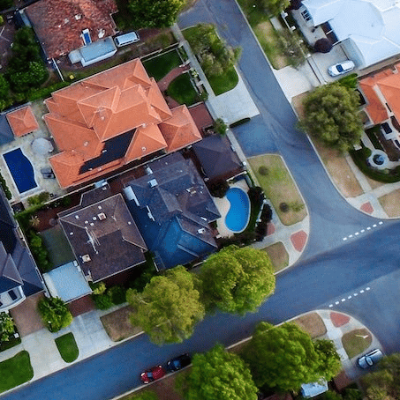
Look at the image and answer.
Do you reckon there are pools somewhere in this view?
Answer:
Yes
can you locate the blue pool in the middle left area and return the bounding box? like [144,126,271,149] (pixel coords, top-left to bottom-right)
[1,147,43,196]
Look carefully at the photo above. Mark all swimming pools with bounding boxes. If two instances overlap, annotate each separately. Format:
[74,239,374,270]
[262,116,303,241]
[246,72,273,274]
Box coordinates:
[1,147,43,196]
[223,186,256,234]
